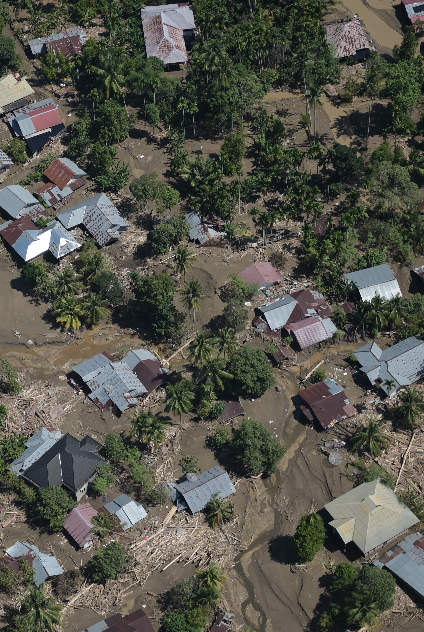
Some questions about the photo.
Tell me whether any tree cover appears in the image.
Yes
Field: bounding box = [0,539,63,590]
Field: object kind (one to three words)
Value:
house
